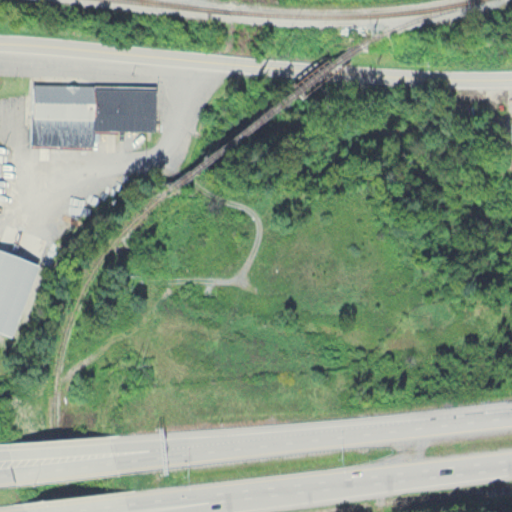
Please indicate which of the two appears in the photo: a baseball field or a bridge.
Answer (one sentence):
Of the two, only a bridge appears.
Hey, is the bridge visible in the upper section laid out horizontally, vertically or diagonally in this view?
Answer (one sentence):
From this overhead view, the bridge visible in the upper section appears to run diagonally.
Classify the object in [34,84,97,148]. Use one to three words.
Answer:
building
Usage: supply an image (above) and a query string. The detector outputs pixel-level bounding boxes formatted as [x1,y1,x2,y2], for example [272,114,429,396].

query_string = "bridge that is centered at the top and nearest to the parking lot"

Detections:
[170,42,369,189]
